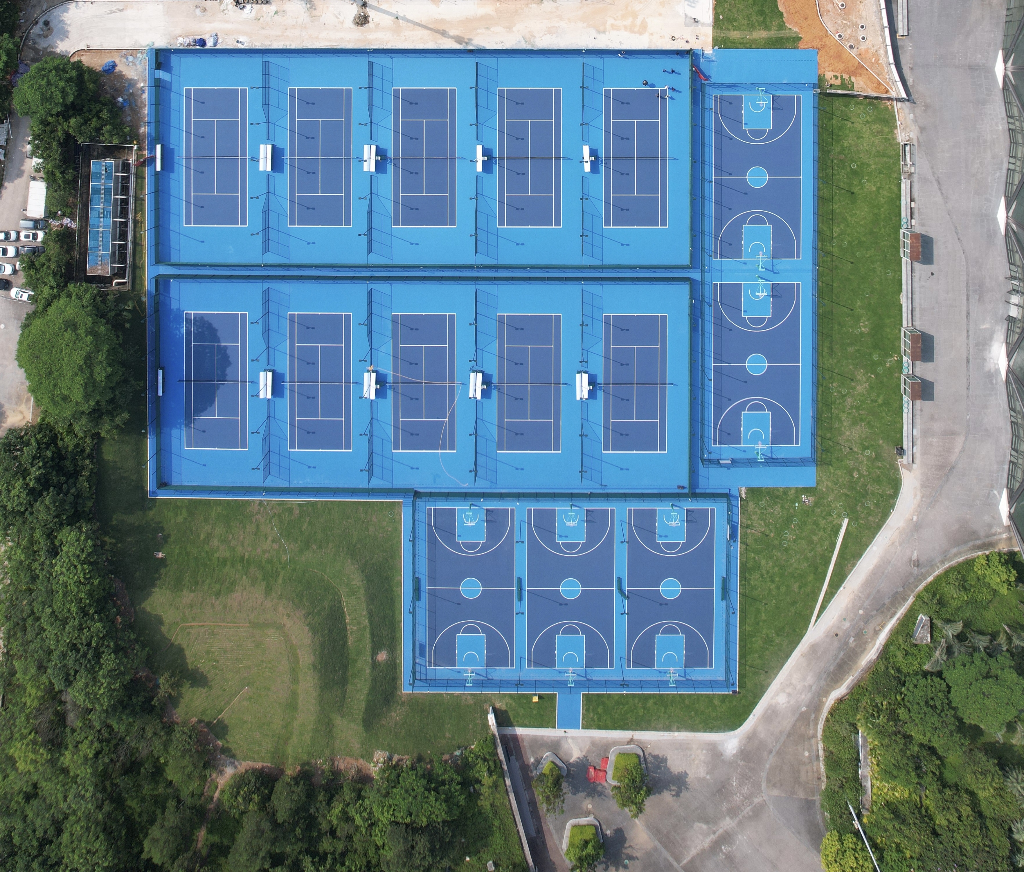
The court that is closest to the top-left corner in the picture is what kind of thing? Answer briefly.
tennis court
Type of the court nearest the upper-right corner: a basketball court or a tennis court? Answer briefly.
basketball court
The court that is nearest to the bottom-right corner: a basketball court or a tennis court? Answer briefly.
basketball court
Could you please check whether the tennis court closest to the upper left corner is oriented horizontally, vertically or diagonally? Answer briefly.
vertically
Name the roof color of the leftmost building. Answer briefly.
blue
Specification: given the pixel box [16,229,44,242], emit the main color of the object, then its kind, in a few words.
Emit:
white vehicle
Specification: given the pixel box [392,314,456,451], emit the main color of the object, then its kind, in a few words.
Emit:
blue tennis court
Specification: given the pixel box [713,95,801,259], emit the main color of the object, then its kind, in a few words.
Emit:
blue basketball court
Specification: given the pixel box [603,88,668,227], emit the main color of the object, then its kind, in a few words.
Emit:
blue tennis court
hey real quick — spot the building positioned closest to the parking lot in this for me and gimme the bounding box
[87,161,138,289]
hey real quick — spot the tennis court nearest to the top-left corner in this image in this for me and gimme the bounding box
[184,88,248,226]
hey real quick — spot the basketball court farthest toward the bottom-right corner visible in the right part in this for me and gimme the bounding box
[626,508,716,669]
